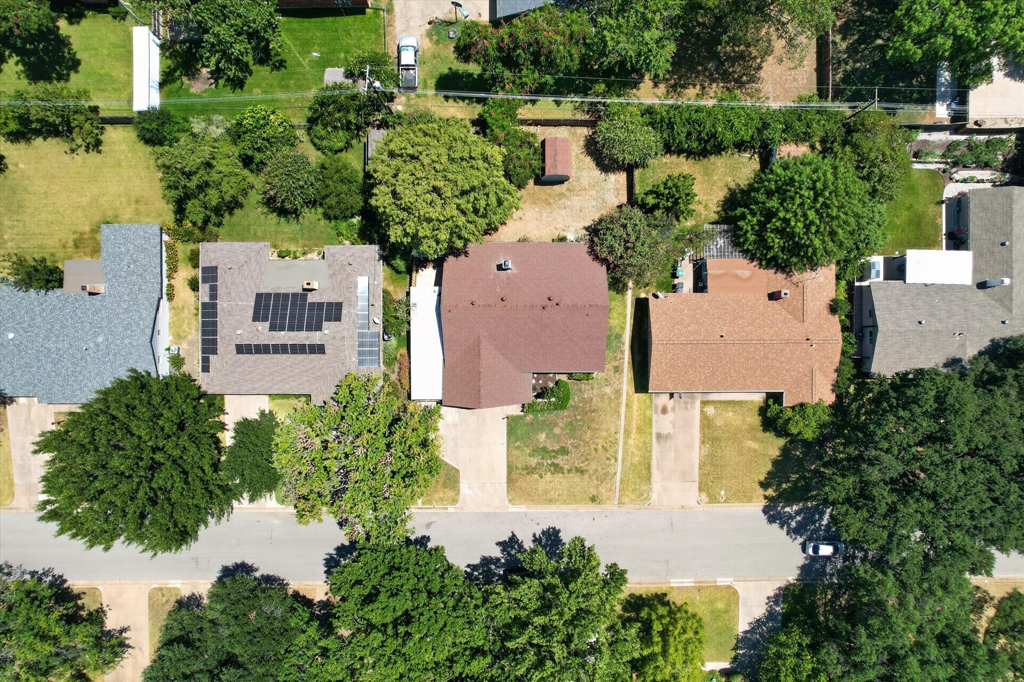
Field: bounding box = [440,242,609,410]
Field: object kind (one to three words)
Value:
house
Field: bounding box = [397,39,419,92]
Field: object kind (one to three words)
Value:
truck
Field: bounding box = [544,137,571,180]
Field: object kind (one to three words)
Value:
shed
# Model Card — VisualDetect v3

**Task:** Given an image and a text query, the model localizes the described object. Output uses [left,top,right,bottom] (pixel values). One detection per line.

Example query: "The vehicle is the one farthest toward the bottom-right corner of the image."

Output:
[802,538,844,559]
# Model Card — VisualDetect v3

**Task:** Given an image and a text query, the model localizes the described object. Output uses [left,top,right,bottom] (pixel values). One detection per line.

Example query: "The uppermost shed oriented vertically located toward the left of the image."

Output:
[133,26,160,116]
